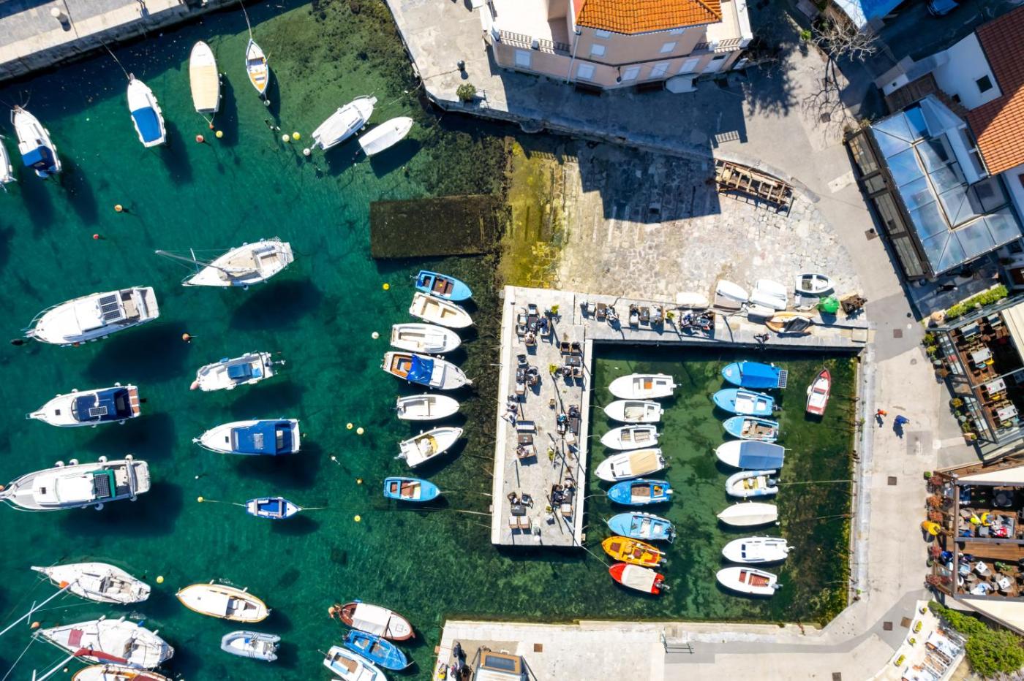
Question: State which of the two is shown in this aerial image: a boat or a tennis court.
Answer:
boat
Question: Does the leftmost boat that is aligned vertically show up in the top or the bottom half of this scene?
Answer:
top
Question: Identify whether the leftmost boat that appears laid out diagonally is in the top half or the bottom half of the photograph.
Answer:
top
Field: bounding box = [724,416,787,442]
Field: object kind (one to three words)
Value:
boat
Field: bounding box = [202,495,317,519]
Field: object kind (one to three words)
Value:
boat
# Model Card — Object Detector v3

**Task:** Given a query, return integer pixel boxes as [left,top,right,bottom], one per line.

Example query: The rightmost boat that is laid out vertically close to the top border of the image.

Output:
[242,2,274,99]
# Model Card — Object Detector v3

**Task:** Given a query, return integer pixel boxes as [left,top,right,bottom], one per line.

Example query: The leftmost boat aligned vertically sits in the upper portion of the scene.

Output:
[0,136,23,192]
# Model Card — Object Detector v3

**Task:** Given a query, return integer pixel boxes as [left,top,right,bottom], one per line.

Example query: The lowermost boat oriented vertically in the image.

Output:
[806,359,830,415]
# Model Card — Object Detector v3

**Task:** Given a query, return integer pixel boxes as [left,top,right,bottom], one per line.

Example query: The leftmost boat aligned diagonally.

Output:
[0,85,66,181]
